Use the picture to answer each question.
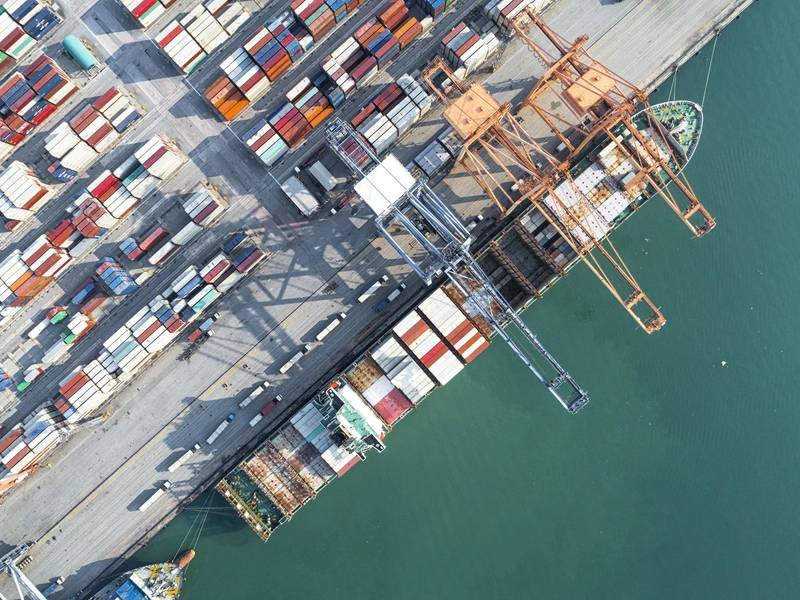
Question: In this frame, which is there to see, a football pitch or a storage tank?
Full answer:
It is a storage tank that can be seen here.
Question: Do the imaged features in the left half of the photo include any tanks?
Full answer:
Yes, a tank can be seen in the left half of the photo.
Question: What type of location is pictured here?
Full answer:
This image shows a port.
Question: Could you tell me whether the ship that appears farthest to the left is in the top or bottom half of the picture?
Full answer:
The ship that appears farthest to the left is in the bottom half of the image.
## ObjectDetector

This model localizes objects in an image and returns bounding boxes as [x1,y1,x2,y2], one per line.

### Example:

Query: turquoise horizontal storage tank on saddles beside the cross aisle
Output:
[58,33,107,81]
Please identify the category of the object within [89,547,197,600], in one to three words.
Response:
ship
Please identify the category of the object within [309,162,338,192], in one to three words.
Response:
shed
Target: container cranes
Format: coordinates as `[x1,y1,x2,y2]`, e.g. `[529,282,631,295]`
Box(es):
[418,55,677,339]
[0,543,48,600]
[317,112,598,417]
[506,0,722,242]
